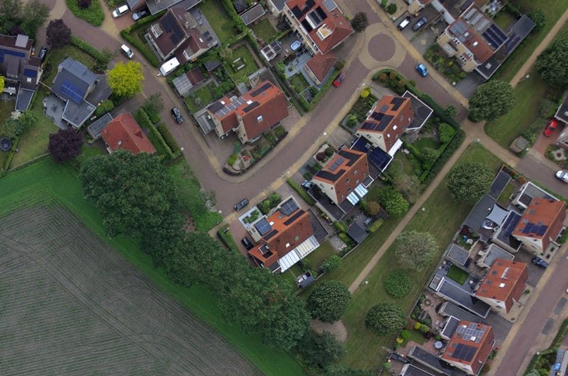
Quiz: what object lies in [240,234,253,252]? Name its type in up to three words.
vehicle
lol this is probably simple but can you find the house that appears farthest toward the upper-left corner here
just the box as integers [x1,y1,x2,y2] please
[0,34,42,115]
